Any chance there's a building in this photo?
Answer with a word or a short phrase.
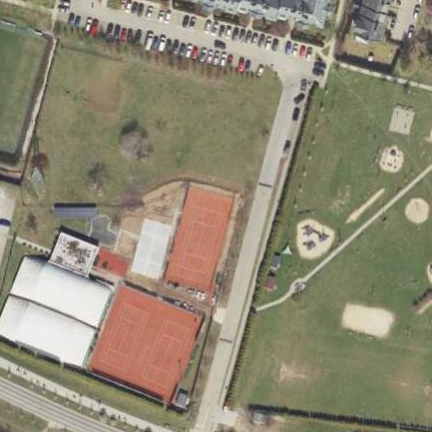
Yes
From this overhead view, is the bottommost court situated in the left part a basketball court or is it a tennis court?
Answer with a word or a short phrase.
tennis court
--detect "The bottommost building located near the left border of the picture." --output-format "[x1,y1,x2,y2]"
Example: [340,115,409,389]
[0,295,96,367]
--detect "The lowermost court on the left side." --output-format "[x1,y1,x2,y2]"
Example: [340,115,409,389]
[88,285,201,404]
